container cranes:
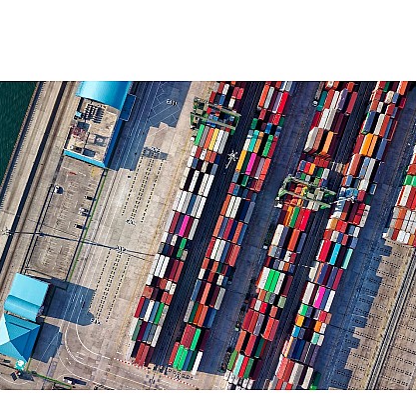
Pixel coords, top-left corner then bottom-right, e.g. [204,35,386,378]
[275,173,338,214]
[187,94,244,143]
